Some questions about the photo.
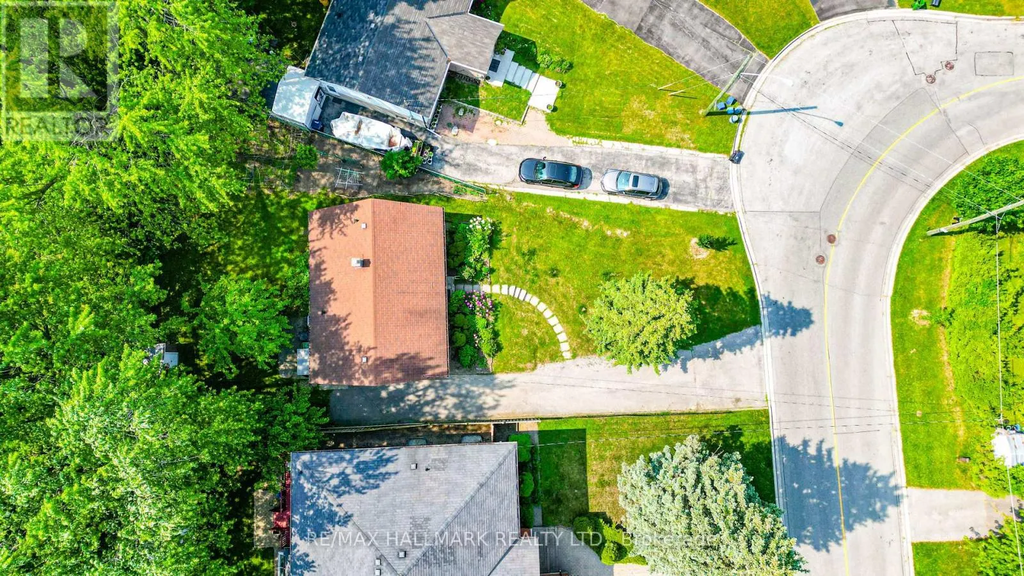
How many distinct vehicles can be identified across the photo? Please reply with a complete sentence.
Altogether the scene contains 2 vehicles.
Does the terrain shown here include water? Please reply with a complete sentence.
No, there is no water in the image.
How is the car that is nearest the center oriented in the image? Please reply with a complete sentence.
In this picture, the car that is nearest the center is oriented from left to right.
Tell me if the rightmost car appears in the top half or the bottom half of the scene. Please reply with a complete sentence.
You can find the rightmost car in the top half.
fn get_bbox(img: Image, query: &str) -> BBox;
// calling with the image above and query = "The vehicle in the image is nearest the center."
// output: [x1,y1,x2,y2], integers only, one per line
[519,158,584,192]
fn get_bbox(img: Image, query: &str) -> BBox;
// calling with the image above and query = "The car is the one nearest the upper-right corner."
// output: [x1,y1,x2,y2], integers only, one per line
[601,167,663,201]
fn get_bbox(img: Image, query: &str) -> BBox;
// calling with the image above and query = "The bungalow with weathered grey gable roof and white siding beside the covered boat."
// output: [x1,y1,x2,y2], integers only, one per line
[303,0,505,127]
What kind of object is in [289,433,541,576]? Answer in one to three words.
house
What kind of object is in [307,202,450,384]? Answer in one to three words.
house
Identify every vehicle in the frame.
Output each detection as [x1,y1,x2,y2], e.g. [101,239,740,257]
[519,158,584,192]
[601,167,663,201]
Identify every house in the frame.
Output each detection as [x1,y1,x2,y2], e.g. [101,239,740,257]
[303,0,505,127]
[307,202,450,384]
[289,433,541,576]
